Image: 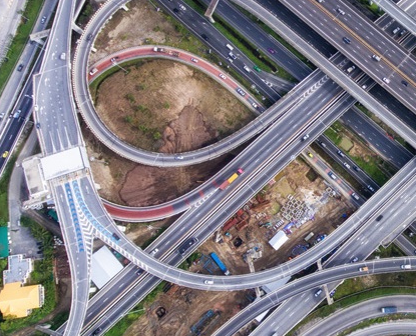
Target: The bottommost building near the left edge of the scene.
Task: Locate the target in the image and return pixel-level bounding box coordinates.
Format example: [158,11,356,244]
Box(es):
[0,281,51,311]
